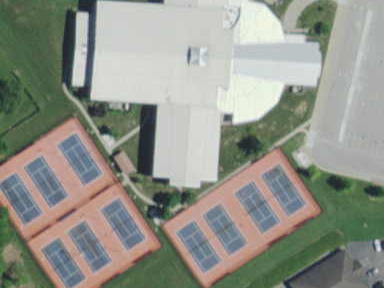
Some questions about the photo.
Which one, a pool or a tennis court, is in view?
tennis court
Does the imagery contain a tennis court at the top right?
No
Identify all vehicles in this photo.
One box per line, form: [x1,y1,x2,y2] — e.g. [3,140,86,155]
[368,268,378,276]
[375,240,380,250]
